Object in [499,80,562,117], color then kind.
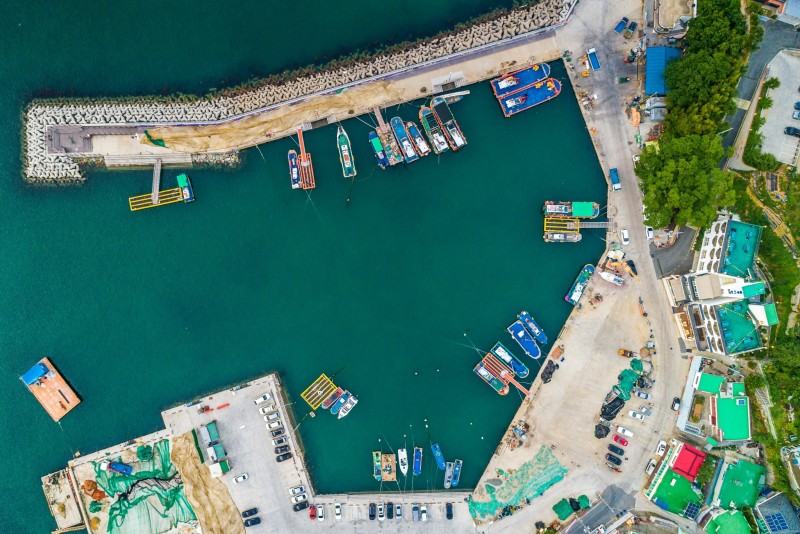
blue ship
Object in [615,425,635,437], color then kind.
white vehicle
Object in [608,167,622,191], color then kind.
blue vehicle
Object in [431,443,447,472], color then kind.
blue boat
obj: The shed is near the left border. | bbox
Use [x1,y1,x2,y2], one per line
[17,361,48,389]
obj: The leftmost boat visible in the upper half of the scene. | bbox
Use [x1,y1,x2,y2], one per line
[177,171,198,204]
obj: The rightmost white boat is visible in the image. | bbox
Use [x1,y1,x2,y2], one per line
[602,273,629,286]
